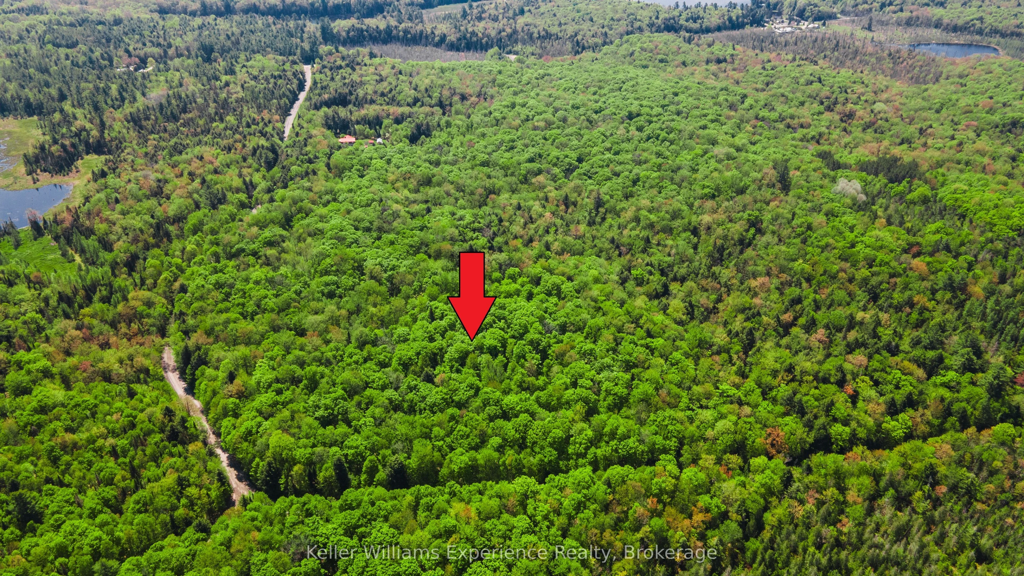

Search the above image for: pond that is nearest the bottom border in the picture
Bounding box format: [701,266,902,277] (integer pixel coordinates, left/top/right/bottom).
[0,184,73,234]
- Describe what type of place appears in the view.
forest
